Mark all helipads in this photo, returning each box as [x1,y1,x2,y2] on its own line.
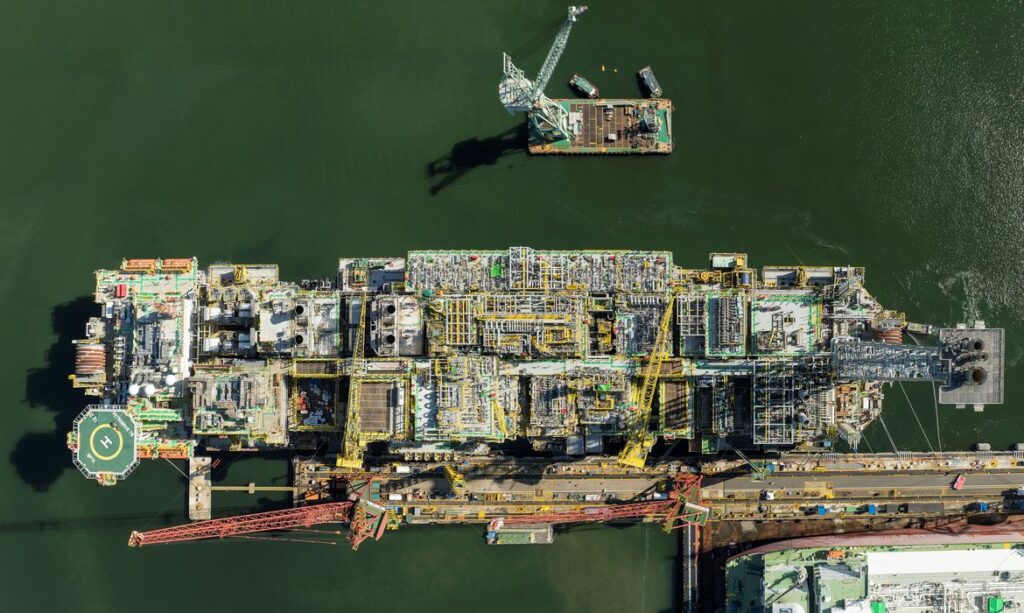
[65,404,155,488]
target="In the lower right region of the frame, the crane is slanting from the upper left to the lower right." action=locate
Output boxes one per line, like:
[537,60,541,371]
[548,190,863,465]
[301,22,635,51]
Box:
[731,445,770,482]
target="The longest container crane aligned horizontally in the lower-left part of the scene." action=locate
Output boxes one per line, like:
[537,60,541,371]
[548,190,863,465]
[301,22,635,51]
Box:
[121,474,388,548]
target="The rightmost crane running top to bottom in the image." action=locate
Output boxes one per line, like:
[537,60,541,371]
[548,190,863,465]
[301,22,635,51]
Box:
[618,290,678,470]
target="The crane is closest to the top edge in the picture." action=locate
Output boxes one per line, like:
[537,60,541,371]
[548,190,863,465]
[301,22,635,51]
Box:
[499,3,588,142]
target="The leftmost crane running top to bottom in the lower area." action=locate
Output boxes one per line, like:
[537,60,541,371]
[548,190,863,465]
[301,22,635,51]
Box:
[335,289,369,475]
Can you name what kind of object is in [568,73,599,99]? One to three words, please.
boat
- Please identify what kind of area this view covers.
port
